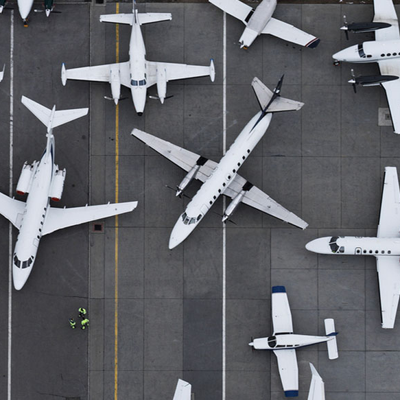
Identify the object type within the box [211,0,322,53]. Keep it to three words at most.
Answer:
airplane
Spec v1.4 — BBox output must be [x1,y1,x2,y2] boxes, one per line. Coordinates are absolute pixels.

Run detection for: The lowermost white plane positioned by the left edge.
[0,94,134,291]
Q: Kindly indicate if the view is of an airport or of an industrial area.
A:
airport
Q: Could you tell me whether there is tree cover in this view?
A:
No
